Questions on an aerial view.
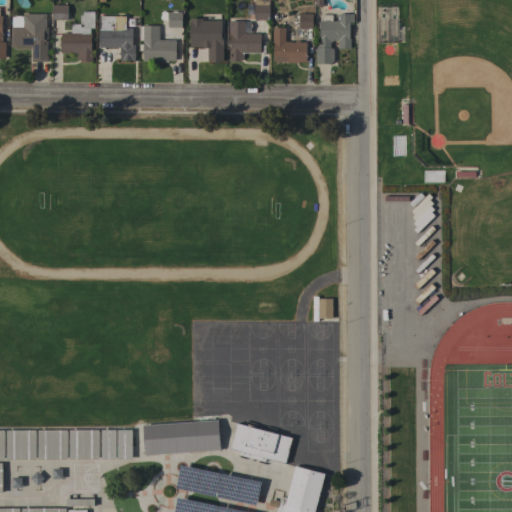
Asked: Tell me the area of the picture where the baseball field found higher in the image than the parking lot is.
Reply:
top right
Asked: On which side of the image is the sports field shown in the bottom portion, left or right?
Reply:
right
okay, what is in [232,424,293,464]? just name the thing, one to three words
building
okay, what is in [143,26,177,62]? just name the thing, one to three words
house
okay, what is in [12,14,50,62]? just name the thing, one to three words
house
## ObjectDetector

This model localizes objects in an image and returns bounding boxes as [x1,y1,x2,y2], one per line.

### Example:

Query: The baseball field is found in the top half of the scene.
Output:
[414,56,512,167]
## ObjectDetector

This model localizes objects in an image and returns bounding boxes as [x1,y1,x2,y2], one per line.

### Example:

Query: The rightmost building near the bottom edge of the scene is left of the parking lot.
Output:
[284,466,326,512]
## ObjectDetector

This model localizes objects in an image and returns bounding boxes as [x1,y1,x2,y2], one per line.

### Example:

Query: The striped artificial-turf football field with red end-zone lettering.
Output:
[445,364,512,512]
